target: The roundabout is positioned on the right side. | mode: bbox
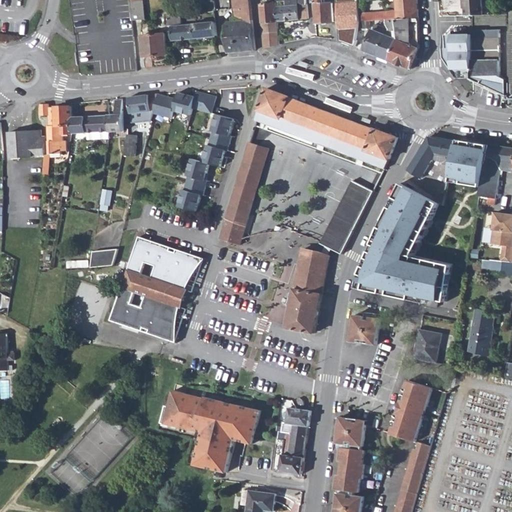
[396,71,455,130]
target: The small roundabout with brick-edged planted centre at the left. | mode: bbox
[2,49,50,97]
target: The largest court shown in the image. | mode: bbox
[45,413,135,500]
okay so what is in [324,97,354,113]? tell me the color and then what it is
white vehicle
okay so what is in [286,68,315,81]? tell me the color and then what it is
white vehicle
